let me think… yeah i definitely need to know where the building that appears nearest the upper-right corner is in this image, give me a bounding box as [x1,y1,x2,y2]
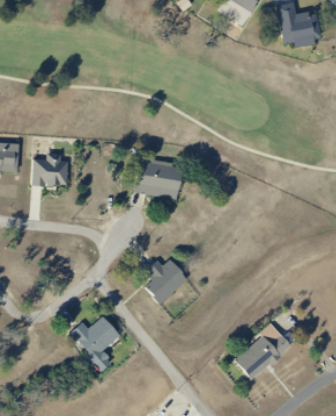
[282,0,322,46]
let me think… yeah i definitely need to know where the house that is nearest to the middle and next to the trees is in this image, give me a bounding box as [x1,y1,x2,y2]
[136,160,182,200]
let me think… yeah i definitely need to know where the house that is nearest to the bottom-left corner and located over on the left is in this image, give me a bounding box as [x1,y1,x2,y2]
[73,316,120,371]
